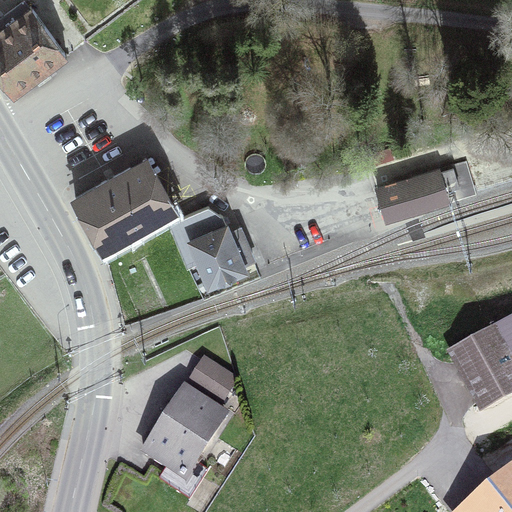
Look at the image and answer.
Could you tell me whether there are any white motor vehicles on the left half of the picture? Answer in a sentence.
Yes, looking on the left half of the picture, one can make out a white motor vehicle.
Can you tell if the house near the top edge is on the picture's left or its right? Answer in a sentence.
The house near the top edge sits on the left side.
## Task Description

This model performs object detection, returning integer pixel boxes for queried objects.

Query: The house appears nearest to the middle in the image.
[172,209,254,293]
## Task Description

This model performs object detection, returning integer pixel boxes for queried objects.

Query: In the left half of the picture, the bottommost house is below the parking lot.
[144,384,229,498]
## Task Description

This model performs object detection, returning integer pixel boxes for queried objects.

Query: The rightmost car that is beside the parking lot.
[210,196,229,213]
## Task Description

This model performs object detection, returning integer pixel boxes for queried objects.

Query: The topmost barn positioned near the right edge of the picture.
[446,314,512,412]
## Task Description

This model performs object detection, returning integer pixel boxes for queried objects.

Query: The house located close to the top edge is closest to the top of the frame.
[0,2,68,112]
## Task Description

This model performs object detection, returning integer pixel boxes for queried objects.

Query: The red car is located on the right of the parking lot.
[309,224,324,245]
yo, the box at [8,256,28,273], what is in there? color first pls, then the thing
white car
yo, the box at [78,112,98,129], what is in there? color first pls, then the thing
gray car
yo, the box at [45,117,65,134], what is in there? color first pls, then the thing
blue car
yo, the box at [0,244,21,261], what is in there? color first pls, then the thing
white car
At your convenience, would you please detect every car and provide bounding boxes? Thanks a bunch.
[309,224,324,245]
[295,228,309,250]
[45,117,65,134]
[0,230,11,244]
[62,134,84,152]
[8,256,28,273]
[92,135,114,152]
[64,263,77,286]
[86,121,109,139]
[0,244,21,261]
[74,296,86,318]
[16,268,38,288]
[78,112,98,129]
[102,146,124,162]
[210,196,229,213]
[55,126,78,144]
[68,149,91,166]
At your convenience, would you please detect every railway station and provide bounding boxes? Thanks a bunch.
[376,168,459,225]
